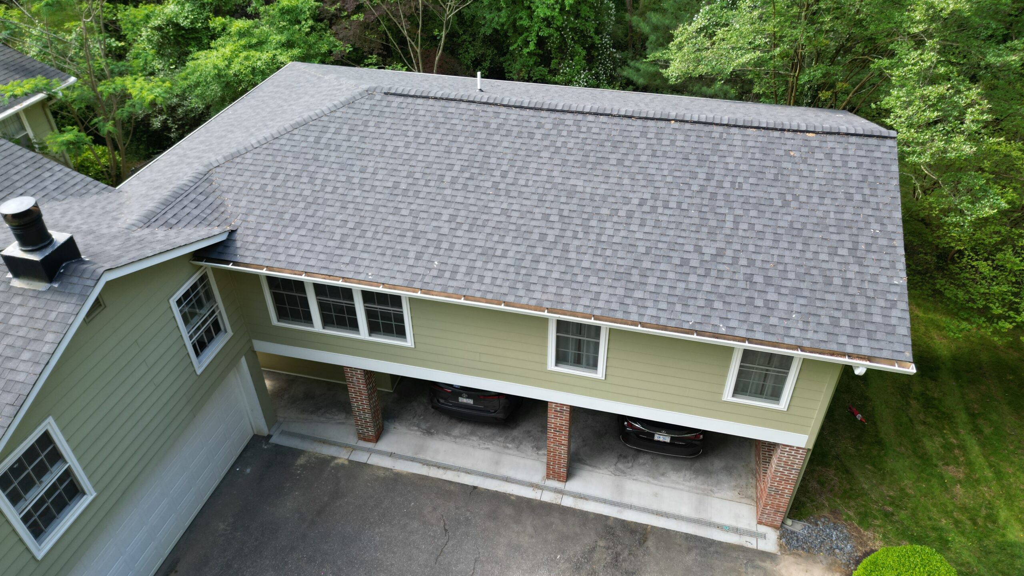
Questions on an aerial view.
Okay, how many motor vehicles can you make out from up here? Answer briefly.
two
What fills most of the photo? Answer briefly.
buildings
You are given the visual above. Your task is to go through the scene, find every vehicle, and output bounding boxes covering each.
[618,416,708,458]
[431,382,521,422]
